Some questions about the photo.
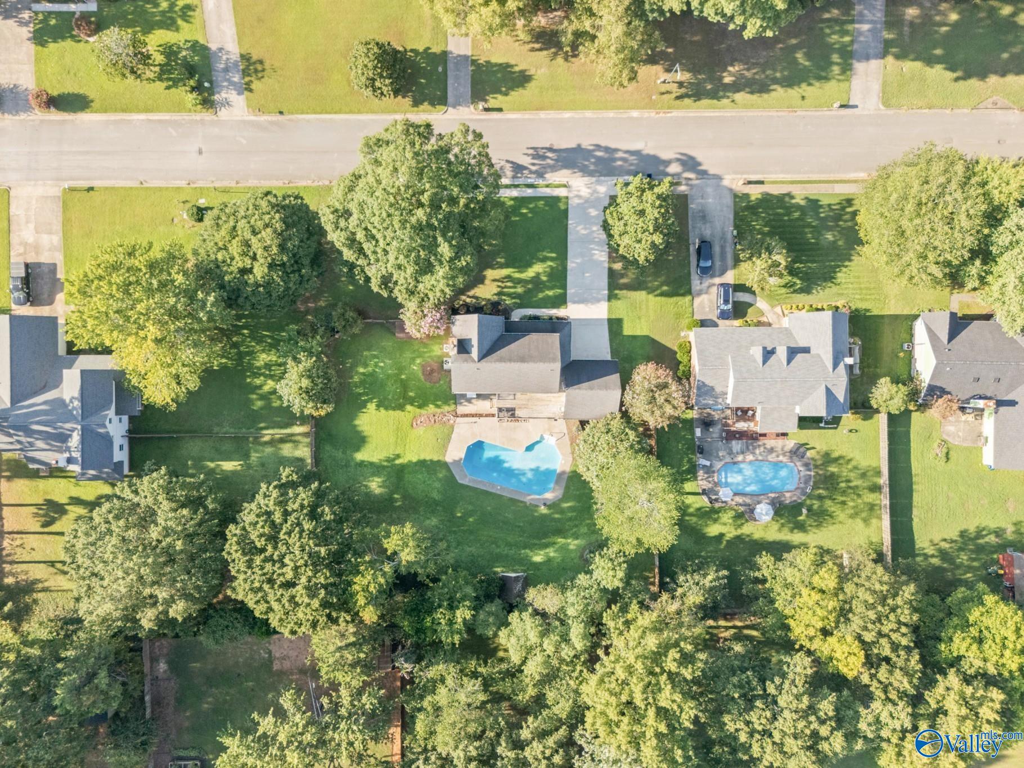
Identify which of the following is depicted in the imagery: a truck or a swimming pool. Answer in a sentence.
Visible in the photo is a swimming pool.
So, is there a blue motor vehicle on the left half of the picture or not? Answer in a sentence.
No, looking on the left half of the picture, there is no blue motor vehicle.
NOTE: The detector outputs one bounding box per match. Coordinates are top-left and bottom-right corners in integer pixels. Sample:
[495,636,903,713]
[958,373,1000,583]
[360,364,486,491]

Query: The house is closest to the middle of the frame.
[449,314,621,419]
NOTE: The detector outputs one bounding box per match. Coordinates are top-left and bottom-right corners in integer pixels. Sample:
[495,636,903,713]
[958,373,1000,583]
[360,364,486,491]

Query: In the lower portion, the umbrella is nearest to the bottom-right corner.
[754,502,772,521]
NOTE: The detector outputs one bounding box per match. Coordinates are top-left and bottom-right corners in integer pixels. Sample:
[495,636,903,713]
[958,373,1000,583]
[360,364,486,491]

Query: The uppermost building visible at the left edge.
[0,314,148,481]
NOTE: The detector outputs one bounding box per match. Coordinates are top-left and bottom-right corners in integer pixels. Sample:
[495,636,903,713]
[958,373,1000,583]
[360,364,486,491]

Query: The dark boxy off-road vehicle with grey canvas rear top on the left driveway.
[9,267,33,300]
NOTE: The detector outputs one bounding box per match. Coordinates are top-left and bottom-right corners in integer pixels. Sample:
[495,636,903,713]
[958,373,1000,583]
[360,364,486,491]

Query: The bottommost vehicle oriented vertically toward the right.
[716,284,733,320]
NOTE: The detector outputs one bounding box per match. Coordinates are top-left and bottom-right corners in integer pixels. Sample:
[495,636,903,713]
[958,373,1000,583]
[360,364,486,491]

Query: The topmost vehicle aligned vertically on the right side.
[696,241,713,276]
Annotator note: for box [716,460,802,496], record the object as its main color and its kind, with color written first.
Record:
blue swimming pool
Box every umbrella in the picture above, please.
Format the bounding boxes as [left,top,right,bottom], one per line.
[754,502,772,521]
[718,487,732,500]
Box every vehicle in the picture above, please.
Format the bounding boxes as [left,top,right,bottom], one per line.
[9,267,33,300]
[716,284,733,320]
[696,241,713,276]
